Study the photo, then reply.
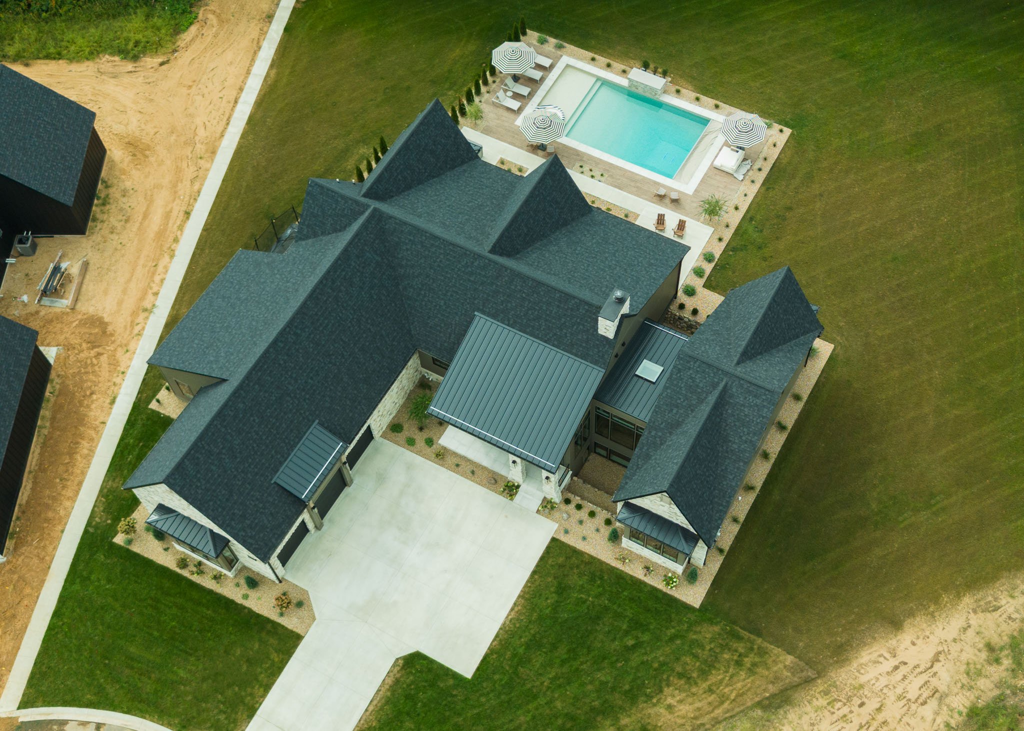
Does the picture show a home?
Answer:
Yes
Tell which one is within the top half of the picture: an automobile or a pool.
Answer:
pool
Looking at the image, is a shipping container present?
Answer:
No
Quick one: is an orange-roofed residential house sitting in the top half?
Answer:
No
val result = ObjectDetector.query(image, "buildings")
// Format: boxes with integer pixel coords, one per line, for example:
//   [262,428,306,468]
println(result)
[0,314,58,559]
[0,70,107,291]
[122,99,825,584]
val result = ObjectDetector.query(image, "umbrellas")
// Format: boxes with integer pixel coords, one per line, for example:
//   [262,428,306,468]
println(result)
[721,111,767,151]
[519,110,564,152]
[494,42,536,83]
